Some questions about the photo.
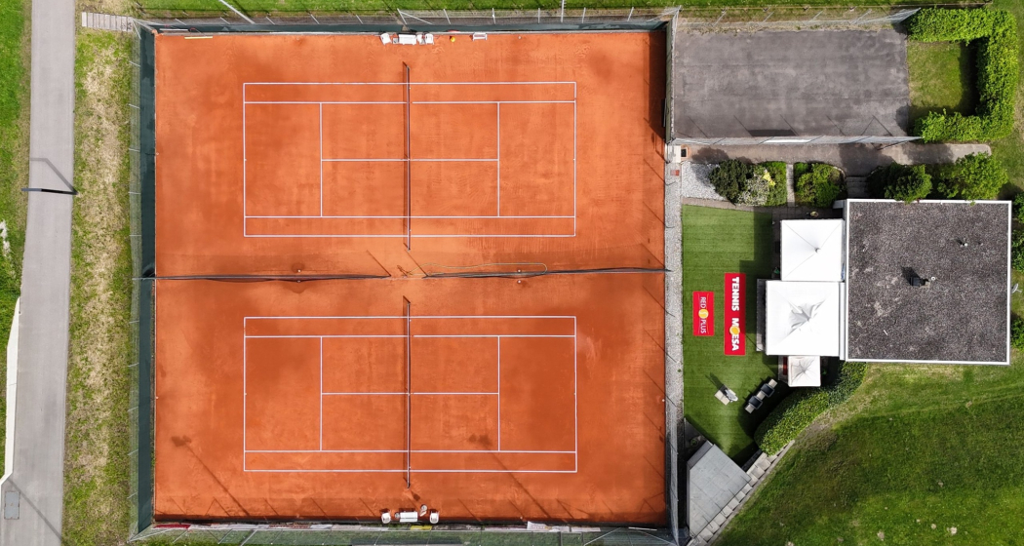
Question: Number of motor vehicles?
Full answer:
The picture shows no motor vehicles.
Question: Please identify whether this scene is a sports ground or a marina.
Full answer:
The area seen from above is a sports ground.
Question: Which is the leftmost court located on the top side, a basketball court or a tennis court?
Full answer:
What you see as the leftmost court located on the top side is a tennis court.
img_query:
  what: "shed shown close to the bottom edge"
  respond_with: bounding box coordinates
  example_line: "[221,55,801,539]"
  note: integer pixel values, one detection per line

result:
[688,441,751,538]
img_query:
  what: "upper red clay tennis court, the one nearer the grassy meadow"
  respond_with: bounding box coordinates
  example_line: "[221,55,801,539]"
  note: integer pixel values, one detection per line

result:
[155,32,666,276]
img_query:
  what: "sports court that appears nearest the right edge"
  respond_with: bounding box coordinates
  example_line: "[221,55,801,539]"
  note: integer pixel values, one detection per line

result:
[673,26,910,145]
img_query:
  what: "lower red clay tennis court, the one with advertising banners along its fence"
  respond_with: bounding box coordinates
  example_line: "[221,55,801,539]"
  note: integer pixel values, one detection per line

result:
[155,276,666,523]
